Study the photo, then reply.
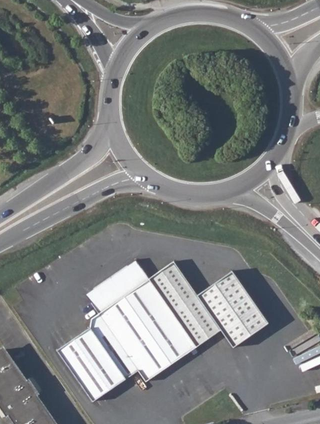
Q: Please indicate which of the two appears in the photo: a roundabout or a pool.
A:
roundabout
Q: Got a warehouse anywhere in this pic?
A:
Yes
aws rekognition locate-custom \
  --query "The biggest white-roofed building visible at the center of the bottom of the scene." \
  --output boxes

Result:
[58,260,222,402]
